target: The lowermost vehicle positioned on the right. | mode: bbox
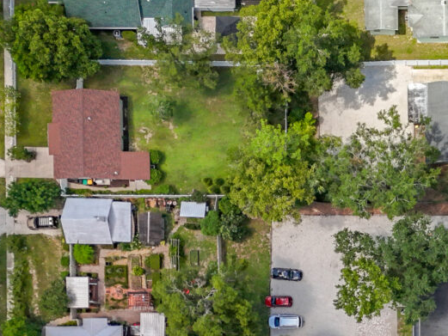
[269,314,302,329]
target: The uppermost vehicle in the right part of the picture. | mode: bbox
[272,267,303,282]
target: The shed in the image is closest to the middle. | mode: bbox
[179,201,212,219]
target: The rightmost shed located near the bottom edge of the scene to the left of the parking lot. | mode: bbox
[140,313,171,336]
